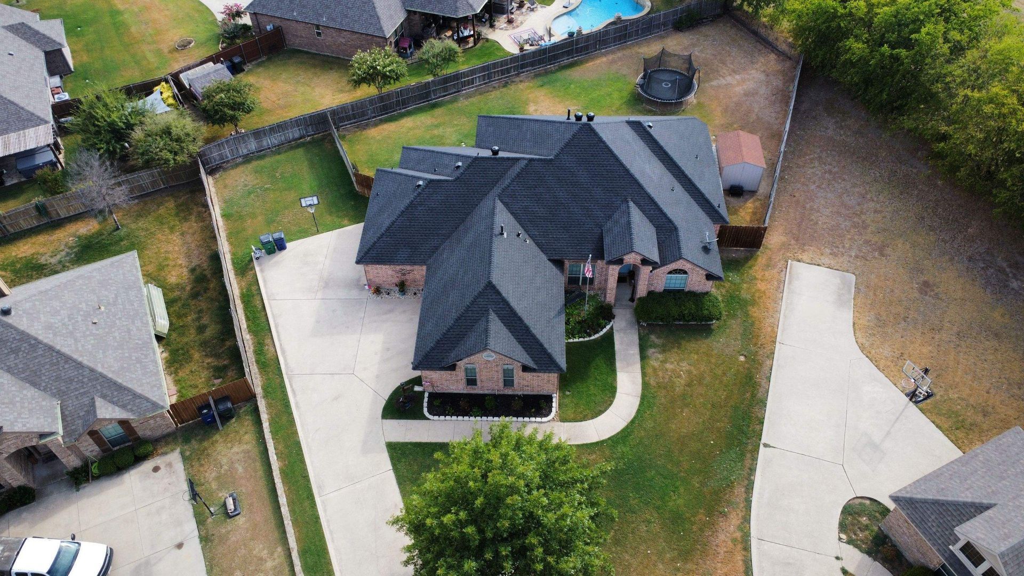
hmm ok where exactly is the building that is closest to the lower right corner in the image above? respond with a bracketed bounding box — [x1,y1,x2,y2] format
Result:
[877,430,1024,576]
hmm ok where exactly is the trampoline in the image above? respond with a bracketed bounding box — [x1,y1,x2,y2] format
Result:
[635,44,702,111]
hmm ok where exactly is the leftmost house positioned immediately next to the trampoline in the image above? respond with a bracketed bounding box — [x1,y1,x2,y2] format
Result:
[354,110,728,411]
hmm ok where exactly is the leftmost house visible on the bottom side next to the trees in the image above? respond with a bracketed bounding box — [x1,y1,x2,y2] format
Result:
[0,246,175,486]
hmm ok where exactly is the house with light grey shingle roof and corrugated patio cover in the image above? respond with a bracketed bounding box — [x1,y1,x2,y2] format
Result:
[0,3,83,199]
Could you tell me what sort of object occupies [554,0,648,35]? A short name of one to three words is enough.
swimming pool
